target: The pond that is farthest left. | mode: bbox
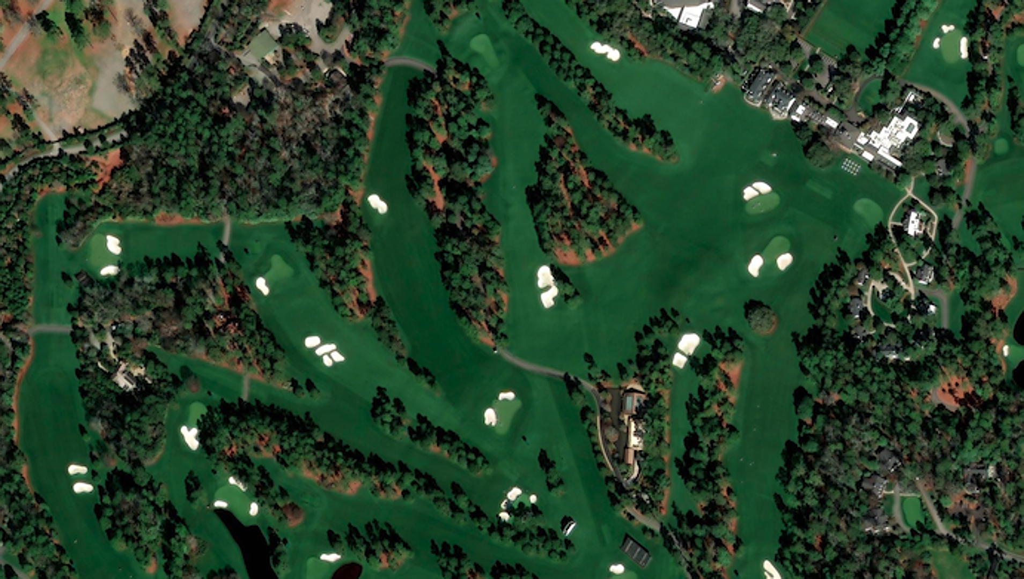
[214,508,281,579]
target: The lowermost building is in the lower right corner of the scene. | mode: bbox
[864,509,889,533]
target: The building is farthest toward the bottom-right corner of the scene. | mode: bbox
[964,466,996,492]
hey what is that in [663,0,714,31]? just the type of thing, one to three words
building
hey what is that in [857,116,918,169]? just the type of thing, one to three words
building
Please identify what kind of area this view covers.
golf course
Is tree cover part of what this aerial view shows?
Yes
